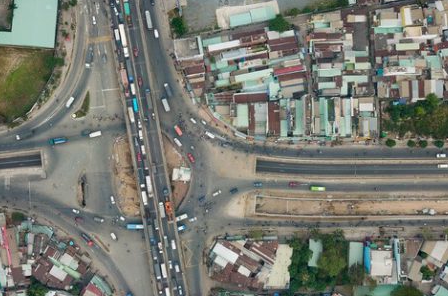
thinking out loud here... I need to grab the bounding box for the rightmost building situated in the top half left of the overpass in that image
[14,0,59,51]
